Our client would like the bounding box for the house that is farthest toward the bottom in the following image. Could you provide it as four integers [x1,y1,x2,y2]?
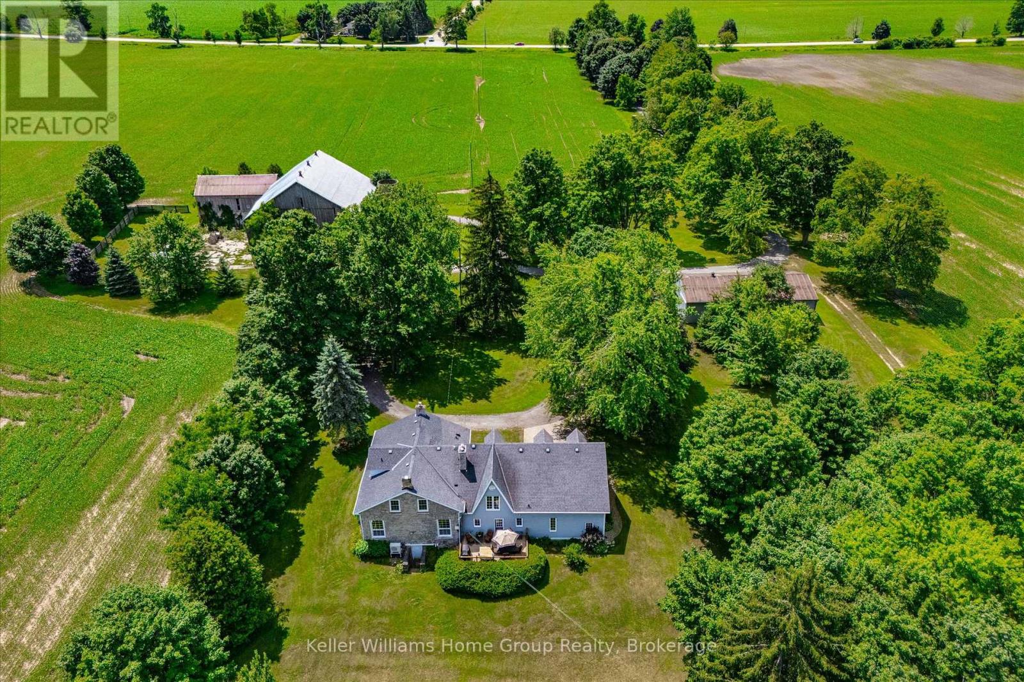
[352,404,611,563]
